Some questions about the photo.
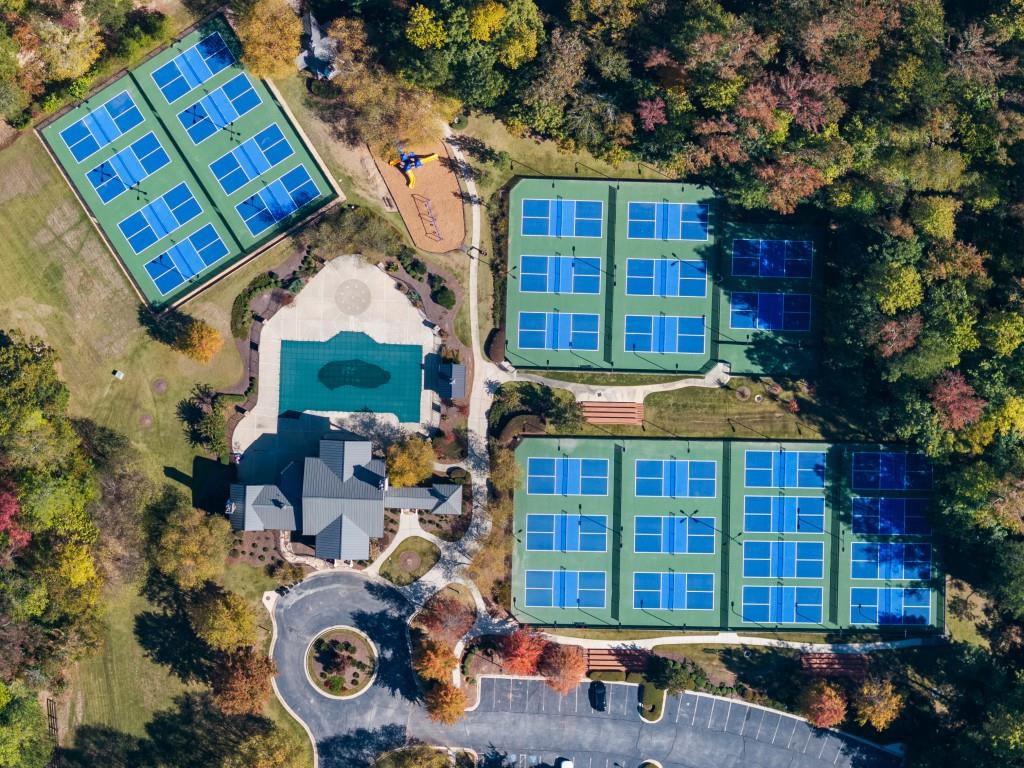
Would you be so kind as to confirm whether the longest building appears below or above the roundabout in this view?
above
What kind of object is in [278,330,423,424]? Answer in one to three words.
swimming pool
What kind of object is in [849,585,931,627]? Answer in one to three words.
sports court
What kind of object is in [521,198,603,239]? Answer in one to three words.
sports court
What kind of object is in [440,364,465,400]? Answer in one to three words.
building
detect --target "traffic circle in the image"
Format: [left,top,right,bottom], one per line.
[304,625,378,699]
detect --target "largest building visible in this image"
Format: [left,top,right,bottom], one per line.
[228,441,462,566]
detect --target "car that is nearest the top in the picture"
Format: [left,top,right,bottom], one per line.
[593,682,607,712]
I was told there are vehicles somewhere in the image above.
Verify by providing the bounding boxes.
[561,760,573,768]
[593,682,607,712]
